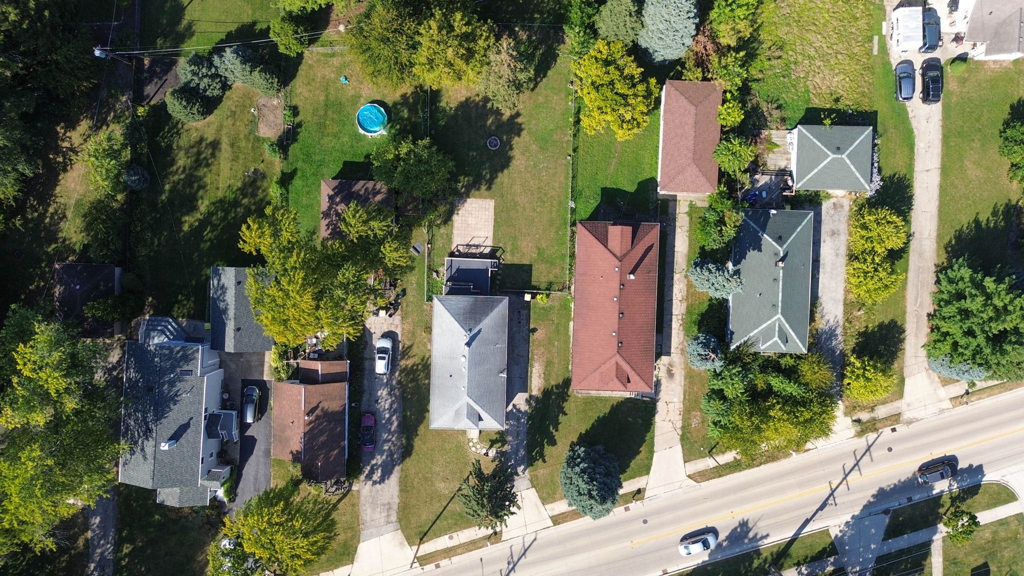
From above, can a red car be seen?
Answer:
No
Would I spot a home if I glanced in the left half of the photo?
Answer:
Yes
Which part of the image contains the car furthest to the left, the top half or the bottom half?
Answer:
bottom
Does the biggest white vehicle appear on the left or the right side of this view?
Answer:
right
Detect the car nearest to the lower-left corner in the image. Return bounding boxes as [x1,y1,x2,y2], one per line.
[241,385,261,425]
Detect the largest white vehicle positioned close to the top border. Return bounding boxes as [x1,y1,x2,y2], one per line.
[892,5,924,61]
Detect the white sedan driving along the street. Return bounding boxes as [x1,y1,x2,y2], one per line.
[677,532,718,557]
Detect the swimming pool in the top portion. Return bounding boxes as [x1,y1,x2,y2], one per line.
[355,102,389,135]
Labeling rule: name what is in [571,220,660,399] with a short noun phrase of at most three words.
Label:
house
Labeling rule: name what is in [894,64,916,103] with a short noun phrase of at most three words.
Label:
car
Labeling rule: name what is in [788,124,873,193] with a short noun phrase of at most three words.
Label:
building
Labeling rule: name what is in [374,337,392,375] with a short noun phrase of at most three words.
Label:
car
